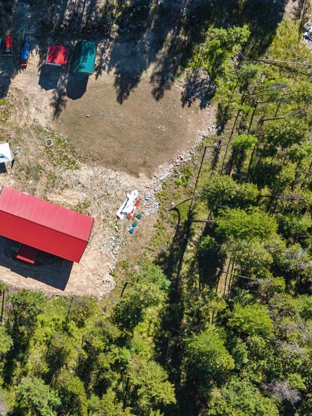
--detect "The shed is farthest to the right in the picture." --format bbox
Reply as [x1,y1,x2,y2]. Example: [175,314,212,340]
[66,40,94,77]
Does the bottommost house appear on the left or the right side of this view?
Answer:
left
